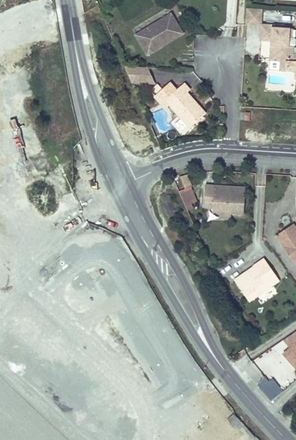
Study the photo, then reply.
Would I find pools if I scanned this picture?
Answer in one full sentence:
Yes, a pool can be made out from above.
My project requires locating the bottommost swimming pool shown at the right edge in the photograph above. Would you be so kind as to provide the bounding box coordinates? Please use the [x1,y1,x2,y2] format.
[266,72,296,93]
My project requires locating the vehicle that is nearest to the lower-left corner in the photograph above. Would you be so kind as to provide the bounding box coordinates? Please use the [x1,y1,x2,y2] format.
[66,217,88,232]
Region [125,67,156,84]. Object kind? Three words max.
building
